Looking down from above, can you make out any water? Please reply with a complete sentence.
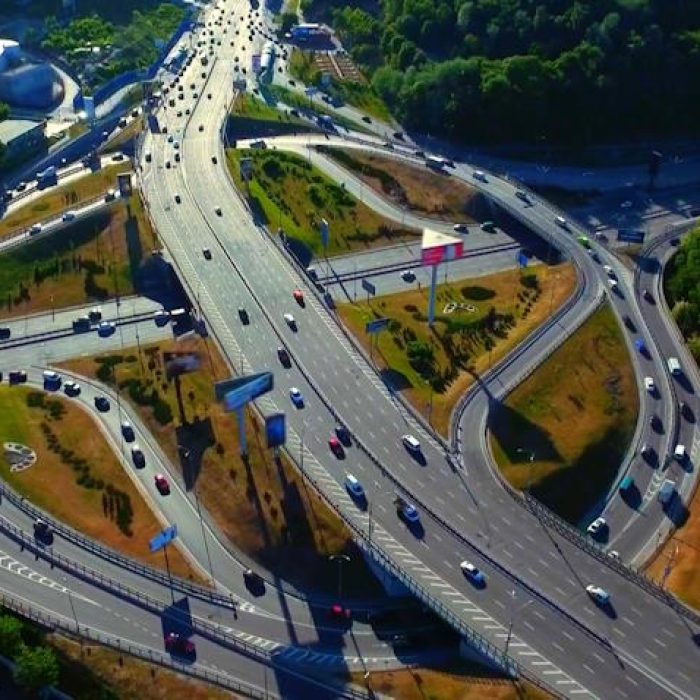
No, the picture contains no water.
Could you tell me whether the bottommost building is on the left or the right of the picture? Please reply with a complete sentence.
The bottommost building appears in the left half of the scene.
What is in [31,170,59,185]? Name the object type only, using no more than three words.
vehicle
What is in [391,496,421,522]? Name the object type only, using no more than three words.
truck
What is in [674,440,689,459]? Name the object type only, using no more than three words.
vehicle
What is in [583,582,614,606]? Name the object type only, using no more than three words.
car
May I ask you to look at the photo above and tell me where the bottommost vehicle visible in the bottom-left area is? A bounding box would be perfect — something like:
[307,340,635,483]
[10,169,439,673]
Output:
[163,632,193,653]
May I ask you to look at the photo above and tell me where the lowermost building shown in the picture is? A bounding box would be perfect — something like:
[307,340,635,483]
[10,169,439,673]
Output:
[0,116,50,170]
